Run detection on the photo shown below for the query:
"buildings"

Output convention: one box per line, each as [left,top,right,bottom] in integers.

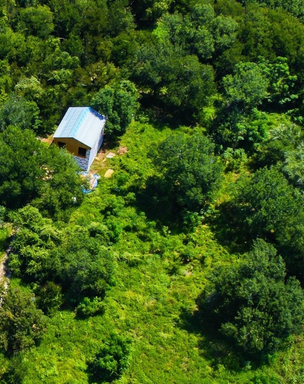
[52,108,106,169]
